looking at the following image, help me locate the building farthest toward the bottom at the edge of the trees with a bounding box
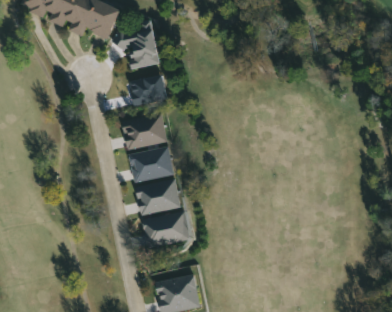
[152,274,202,312]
